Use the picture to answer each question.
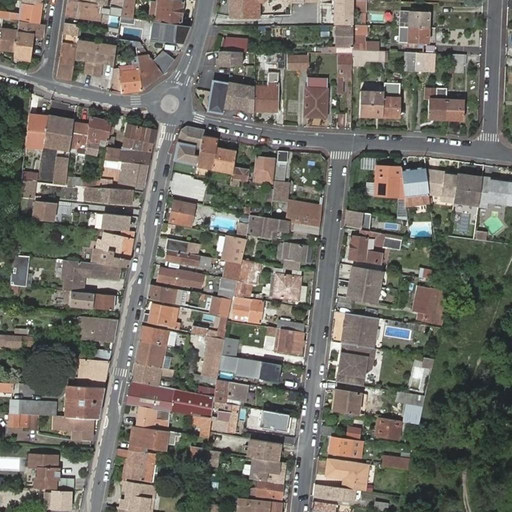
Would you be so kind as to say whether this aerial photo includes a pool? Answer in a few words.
Yes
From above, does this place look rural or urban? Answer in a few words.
urban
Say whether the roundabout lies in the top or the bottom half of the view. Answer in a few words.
top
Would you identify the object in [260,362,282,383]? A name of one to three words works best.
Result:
house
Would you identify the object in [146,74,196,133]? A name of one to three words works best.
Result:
roundabout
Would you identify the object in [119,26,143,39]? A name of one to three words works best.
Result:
swimming pool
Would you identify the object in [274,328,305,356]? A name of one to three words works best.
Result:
shed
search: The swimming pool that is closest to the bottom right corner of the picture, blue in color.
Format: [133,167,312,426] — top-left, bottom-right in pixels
[383,326,412,340]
